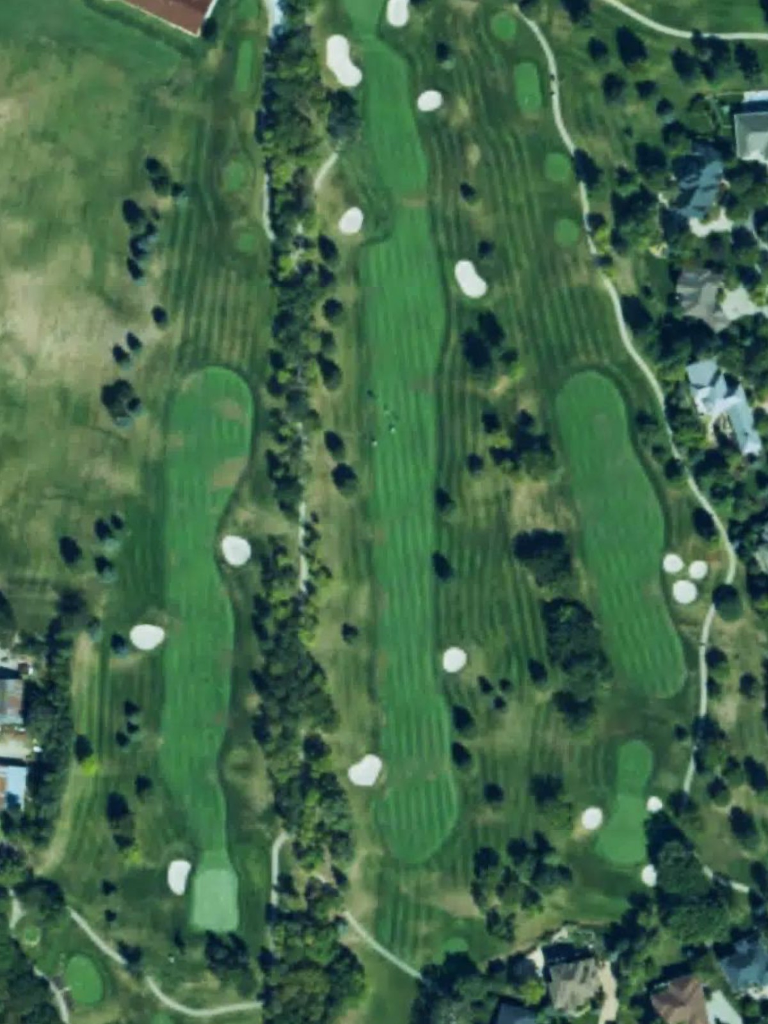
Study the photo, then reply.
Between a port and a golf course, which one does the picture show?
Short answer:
golf course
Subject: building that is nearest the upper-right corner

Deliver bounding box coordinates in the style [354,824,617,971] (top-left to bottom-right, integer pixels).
[734,111,768,159]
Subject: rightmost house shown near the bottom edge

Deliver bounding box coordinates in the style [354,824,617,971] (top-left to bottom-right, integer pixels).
[722,943,768,999]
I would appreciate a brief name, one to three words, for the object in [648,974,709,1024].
house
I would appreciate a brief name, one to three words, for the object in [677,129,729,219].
house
